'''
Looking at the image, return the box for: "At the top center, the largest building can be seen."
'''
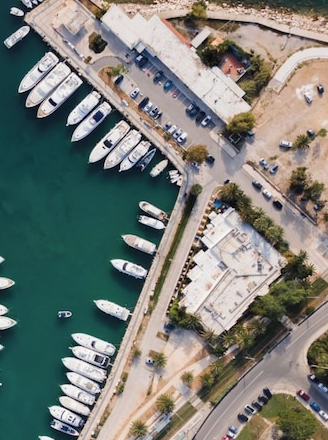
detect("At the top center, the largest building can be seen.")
[98,4,252,127]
